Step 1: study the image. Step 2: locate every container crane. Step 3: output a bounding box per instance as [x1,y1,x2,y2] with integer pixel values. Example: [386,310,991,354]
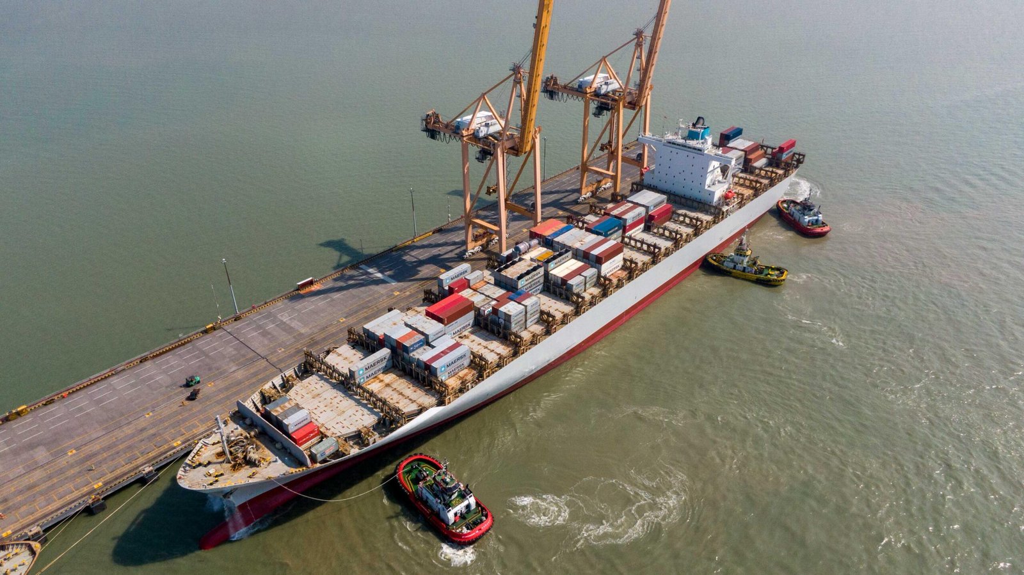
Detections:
[418,0,551,262]
[540,0,669,206]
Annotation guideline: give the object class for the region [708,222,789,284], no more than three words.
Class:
boat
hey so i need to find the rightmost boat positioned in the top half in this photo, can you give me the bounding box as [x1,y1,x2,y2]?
[777,186,835,237]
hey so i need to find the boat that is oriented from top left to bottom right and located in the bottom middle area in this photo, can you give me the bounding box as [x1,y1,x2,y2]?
[396,450,499,545]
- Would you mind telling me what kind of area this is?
port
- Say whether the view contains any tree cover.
No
